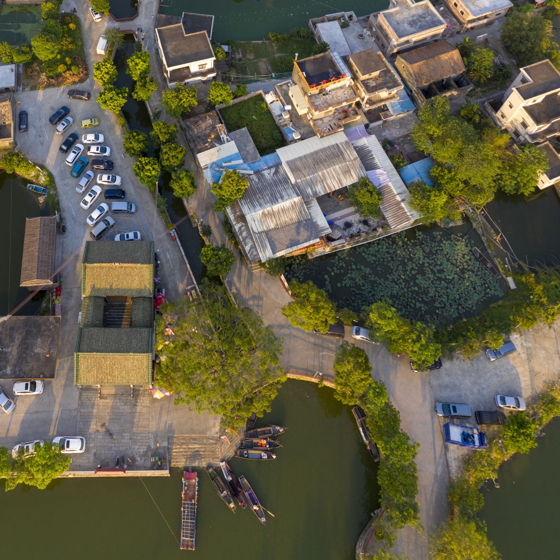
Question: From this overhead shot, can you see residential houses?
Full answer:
Yes, a residential house is visible in the scene.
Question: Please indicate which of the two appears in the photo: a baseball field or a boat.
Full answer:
Visible in the photo is a boat.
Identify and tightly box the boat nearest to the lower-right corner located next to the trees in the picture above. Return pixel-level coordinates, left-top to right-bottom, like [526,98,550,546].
[351,408,378,462]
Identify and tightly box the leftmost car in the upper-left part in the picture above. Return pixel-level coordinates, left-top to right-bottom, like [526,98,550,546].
[16,112,29,133]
